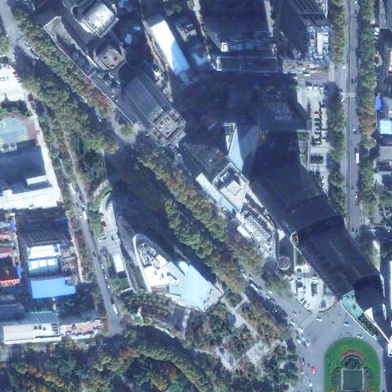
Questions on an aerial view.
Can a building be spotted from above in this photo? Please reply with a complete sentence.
Yes, there is a building in the image.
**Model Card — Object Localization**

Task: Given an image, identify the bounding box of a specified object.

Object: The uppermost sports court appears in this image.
[0,112,39,157]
